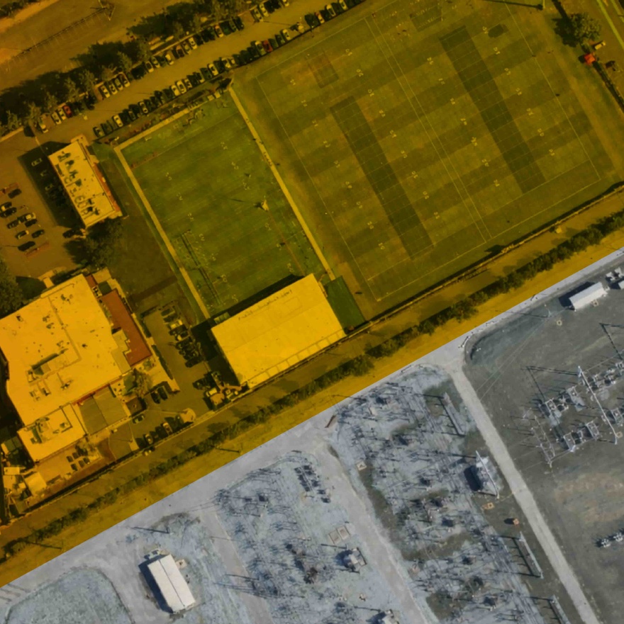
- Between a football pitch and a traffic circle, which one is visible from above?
football pitch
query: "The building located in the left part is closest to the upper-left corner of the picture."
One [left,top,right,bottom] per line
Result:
[48,135,123,232]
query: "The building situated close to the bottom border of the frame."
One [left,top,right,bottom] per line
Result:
[149,555,196,614]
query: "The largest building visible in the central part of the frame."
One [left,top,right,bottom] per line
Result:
[210,274,347,389]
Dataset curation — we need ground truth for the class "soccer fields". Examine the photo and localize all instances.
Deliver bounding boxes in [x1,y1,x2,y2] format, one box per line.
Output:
[236,0,624,319]
[97,80,366,331]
